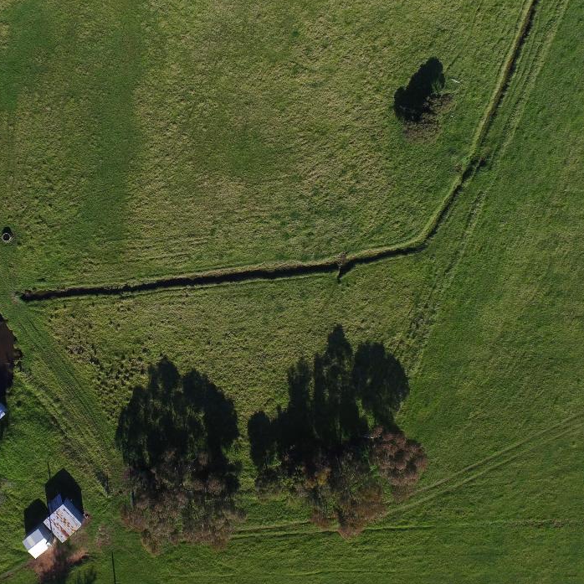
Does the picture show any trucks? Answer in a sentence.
No, there is no truck in the image.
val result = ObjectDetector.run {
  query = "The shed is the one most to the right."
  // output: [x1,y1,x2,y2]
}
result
[43,493,85,543]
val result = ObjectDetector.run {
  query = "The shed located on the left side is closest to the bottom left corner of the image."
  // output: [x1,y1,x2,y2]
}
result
[22,521,54,559]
